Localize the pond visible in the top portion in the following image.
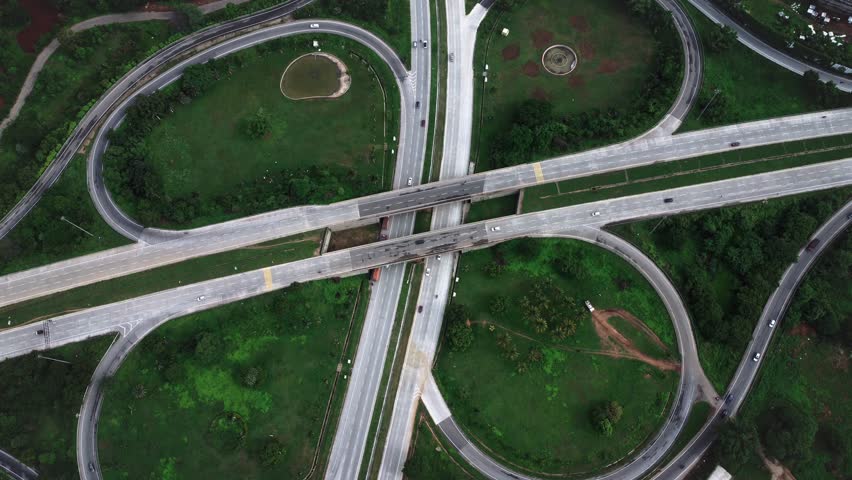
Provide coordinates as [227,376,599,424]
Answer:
[280,52,349,99]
